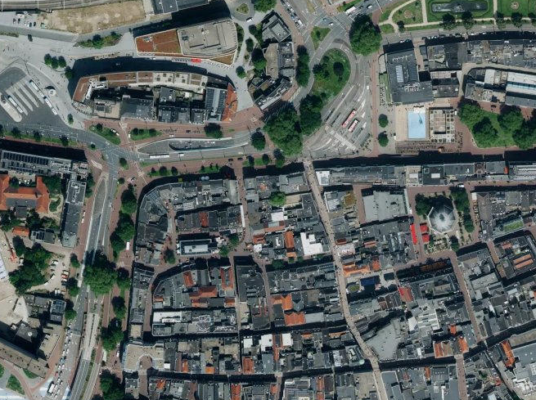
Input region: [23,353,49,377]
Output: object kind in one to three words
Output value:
building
